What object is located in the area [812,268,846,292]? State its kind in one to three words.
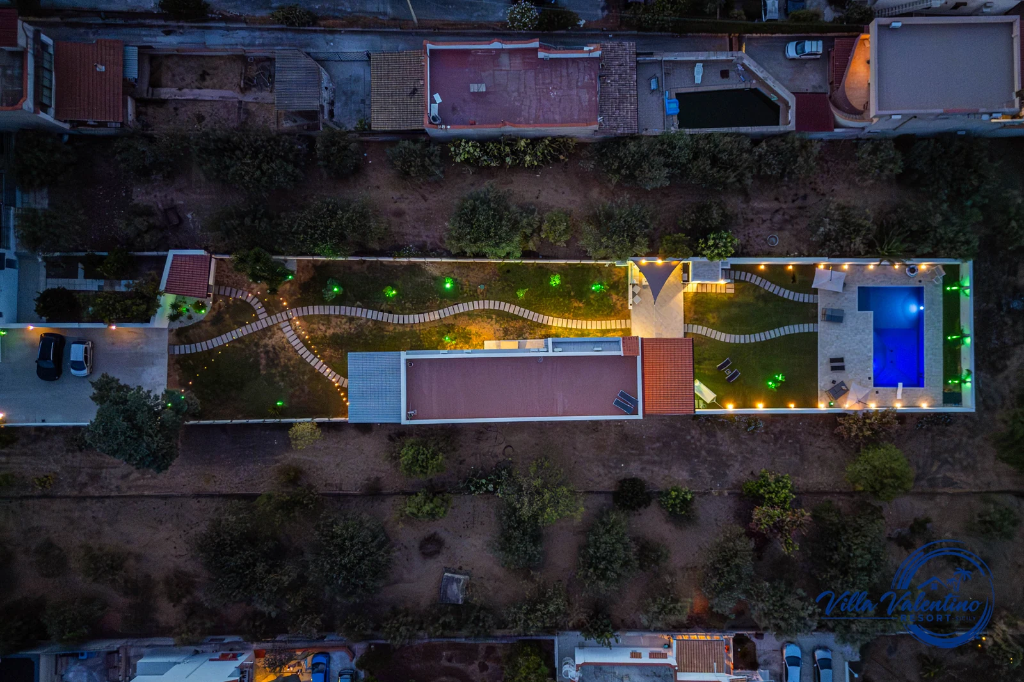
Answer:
umbrella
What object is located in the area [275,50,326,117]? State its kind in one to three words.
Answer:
shed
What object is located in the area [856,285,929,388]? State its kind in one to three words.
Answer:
swimming pool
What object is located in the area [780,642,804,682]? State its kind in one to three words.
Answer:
car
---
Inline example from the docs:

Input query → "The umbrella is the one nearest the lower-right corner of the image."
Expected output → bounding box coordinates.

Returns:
[847,382,871,416]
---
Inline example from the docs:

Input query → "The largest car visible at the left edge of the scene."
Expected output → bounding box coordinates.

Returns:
[36,333,66,380]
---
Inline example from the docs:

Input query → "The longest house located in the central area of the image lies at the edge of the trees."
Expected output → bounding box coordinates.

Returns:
[348,336,696,429]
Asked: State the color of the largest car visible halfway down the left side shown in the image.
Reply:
black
